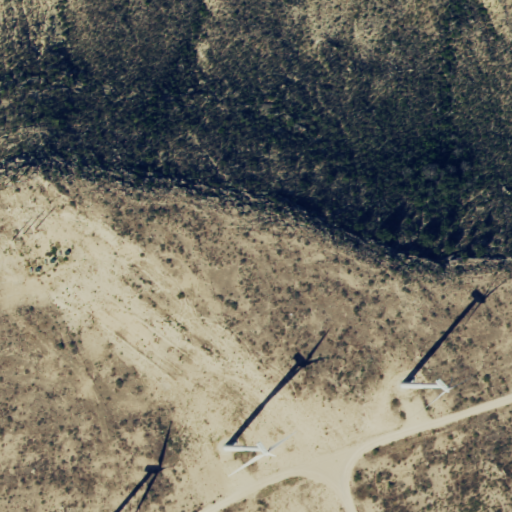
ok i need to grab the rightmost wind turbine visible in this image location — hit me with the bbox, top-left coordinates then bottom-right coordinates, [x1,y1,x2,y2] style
[398,358,467,408]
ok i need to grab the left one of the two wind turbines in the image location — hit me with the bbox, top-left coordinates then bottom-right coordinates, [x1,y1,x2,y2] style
[220,434,292,470]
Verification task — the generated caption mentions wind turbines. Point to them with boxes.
[398,358,467,408]
[220,434,292,470]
